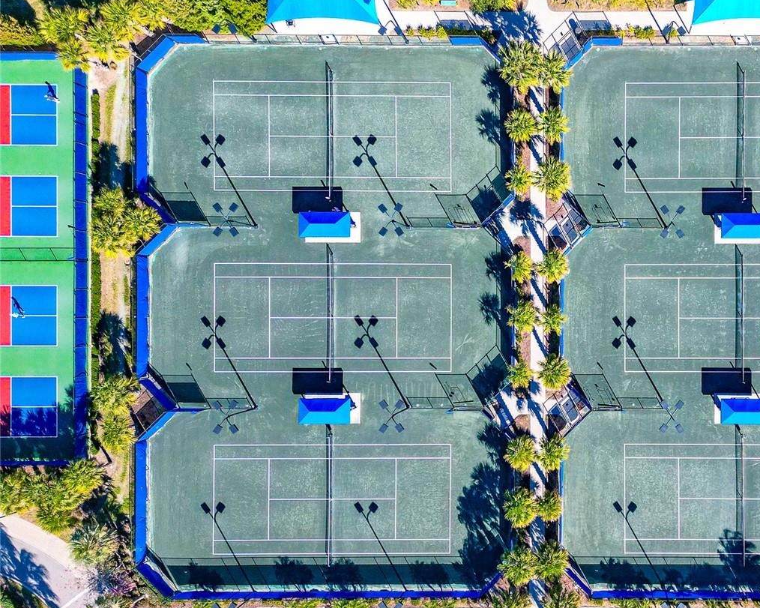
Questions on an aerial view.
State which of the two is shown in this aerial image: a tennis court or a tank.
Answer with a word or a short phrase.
tennis court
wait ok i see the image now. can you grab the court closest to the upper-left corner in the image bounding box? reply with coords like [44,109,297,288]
[0,84,57,145]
